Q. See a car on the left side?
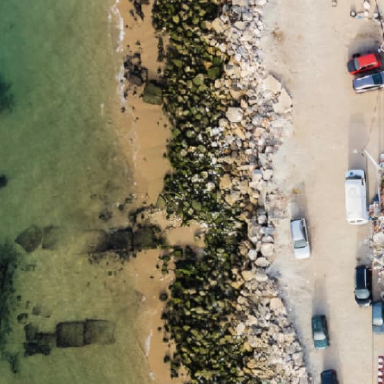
No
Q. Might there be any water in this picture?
Yes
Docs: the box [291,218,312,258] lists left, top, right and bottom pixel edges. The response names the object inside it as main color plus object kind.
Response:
white car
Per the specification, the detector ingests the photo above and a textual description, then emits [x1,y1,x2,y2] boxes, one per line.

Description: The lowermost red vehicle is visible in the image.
[347,54,384,74]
